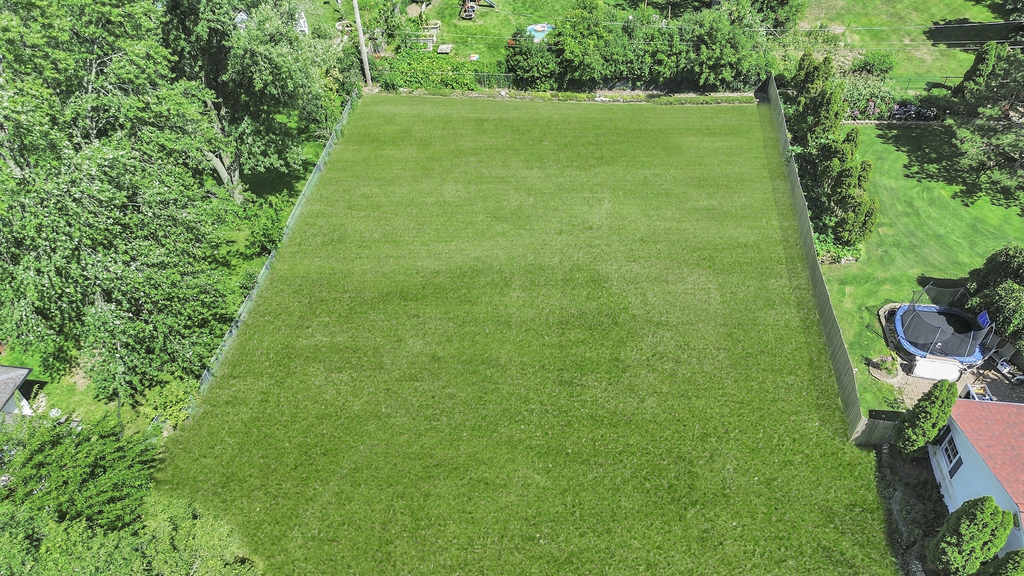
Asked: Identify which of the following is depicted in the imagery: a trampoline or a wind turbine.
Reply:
trampoline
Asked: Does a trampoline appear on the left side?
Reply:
No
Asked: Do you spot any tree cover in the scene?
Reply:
Yes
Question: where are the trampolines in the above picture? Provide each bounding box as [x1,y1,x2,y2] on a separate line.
[892,279,1003,371]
